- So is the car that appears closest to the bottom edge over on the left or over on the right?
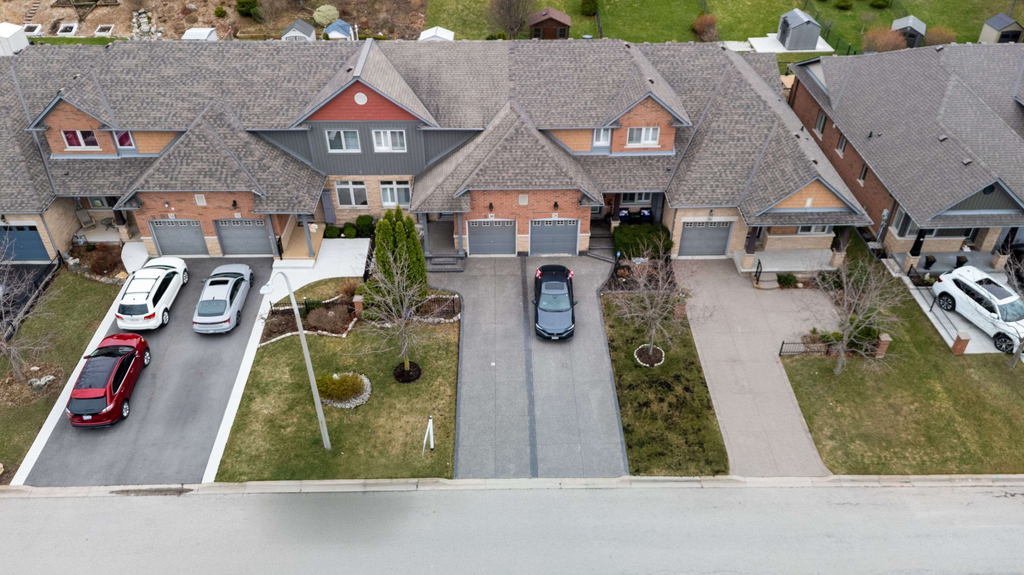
left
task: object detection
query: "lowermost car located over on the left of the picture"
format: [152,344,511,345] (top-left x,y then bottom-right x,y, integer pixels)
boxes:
[68,334,151,422]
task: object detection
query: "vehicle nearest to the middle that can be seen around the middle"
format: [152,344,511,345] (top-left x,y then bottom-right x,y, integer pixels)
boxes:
[530,265,580,339]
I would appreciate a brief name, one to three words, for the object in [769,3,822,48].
shed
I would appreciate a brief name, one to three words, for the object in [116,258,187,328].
car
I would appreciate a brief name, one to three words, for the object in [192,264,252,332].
car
